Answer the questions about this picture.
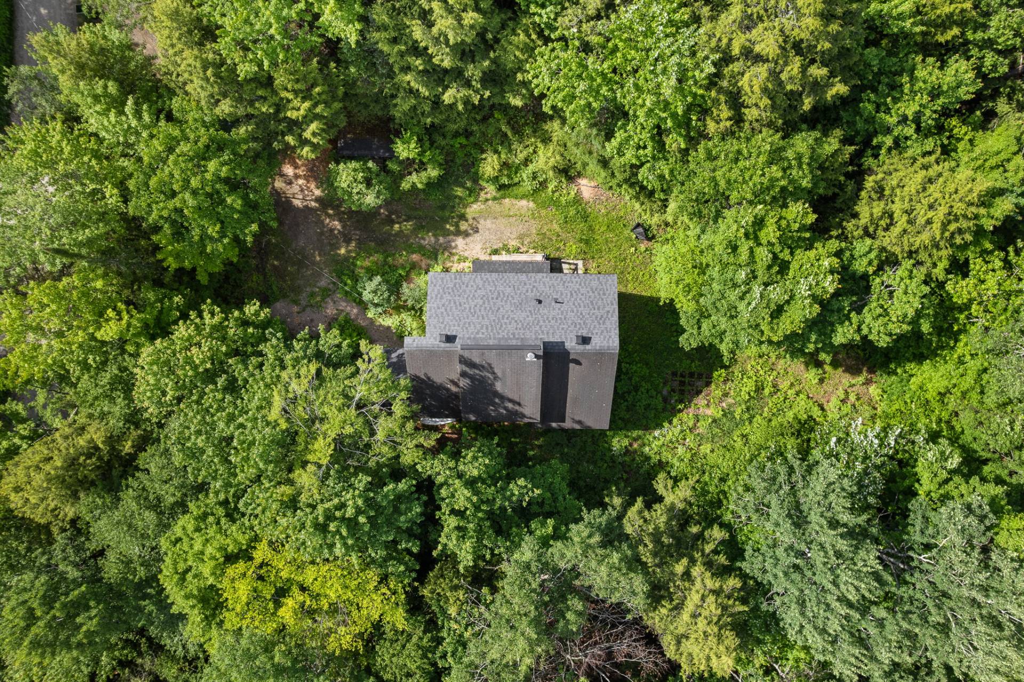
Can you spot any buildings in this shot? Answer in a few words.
Yes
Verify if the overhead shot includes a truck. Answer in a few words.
No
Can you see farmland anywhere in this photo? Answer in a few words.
No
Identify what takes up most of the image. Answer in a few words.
trees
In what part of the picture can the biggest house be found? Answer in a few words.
center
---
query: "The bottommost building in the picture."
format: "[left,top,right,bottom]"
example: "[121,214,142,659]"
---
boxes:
[383,253,620,430]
